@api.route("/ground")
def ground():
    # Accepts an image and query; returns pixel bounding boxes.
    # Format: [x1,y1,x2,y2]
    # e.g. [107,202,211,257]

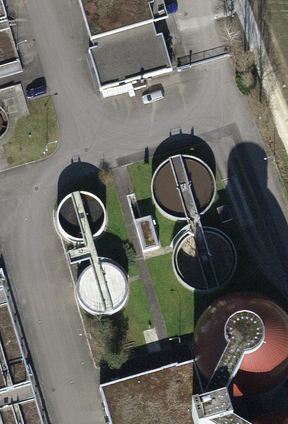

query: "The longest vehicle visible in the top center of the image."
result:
[142,90,165,104]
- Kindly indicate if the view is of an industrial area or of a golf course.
industrial area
